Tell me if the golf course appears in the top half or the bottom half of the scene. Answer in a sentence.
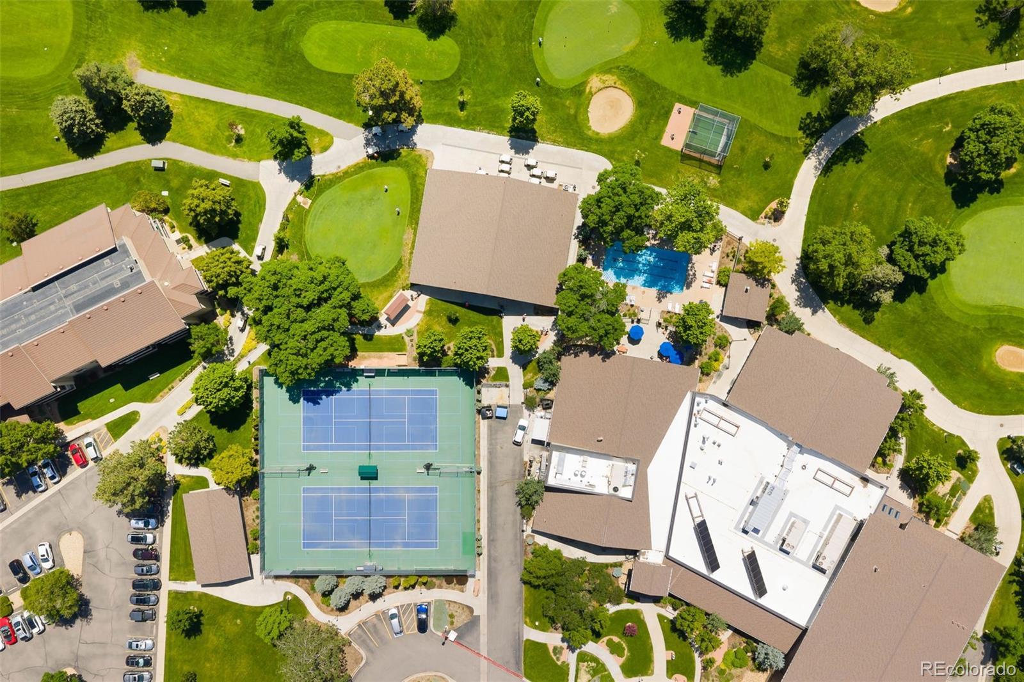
The golf course is in the top half of the image.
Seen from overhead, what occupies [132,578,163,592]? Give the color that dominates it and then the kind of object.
black car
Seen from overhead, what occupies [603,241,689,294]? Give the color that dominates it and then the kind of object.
blue swimming pool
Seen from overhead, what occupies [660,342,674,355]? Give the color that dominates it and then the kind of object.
blue umbrella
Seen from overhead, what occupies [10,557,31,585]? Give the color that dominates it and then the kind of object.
black car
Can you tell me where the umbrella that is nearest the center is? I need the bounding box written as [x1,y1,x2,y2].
[629,325,643,339]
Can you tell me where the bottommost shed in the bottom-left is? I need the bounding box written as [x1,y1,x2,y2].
[184,488,254,585]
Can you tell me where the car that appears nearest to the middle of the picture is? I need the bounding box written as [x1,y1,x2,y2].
[512,418,528,447]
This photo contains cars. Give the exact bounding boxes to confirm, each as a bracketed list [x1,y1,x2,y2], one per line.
[44,458,64,485]
[24,610,44,636]
[134,563,161,576]
[85,435,104,459]
[416,603,429,633]
[127,607,158,622]
[125,670,153,682]
[133,547,161,561]
[388,607,404,637]
[130,517,160,530]
[0,616,16,644]
[127,532,157,546]
[125,654,154,669]
[132,578,163,592]
[12,613,32,642]
[71,442,90,469]
[23,549,44,576]
[36,610,55,628]
[10,557,31,585]
[512,418,528,447]
[133,502,162,515]
[127,638,156,652]
[38,541,56,569]
[130,593,160,607]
